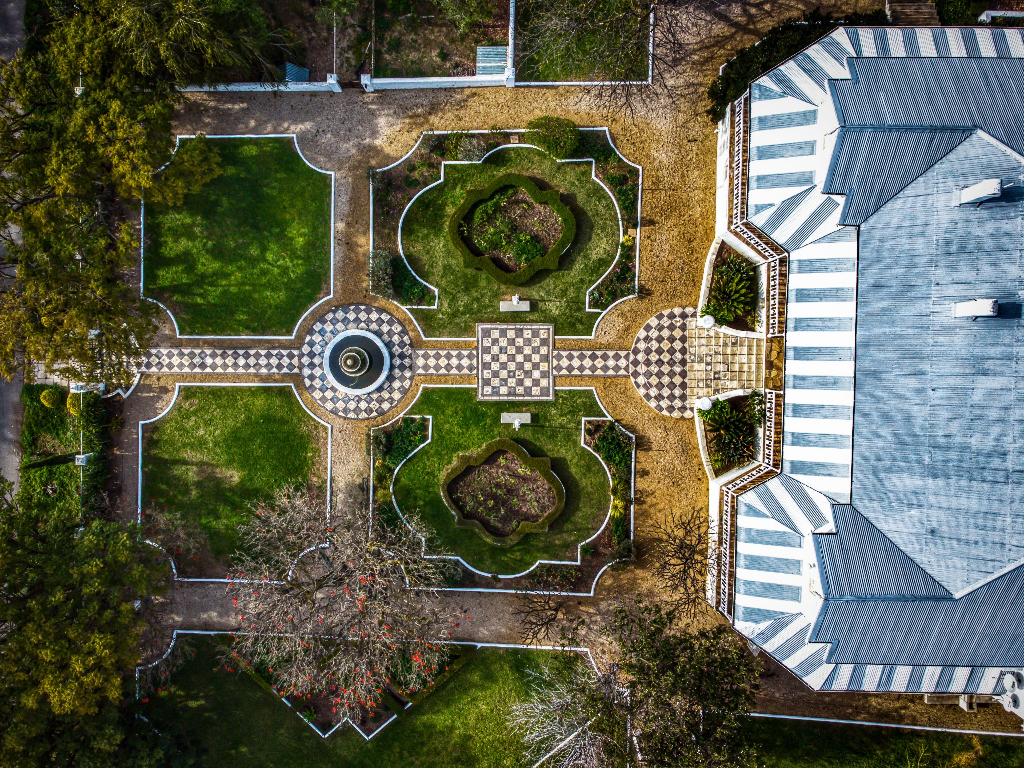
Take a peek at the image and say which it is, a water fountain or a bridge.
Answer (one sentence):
Looking from above, you can make out a water fountain.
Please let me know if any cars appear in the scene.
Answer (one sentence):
No, the scene contains no car.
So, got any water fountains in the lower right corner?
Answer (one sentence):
No, in the lower right corner there is no water fountain.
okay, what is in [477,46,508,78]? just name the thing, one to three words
shed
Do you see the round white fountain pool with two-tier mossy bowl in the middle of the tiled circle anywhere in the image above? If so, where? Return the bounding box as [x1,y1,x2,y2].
[324,329,390,395]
